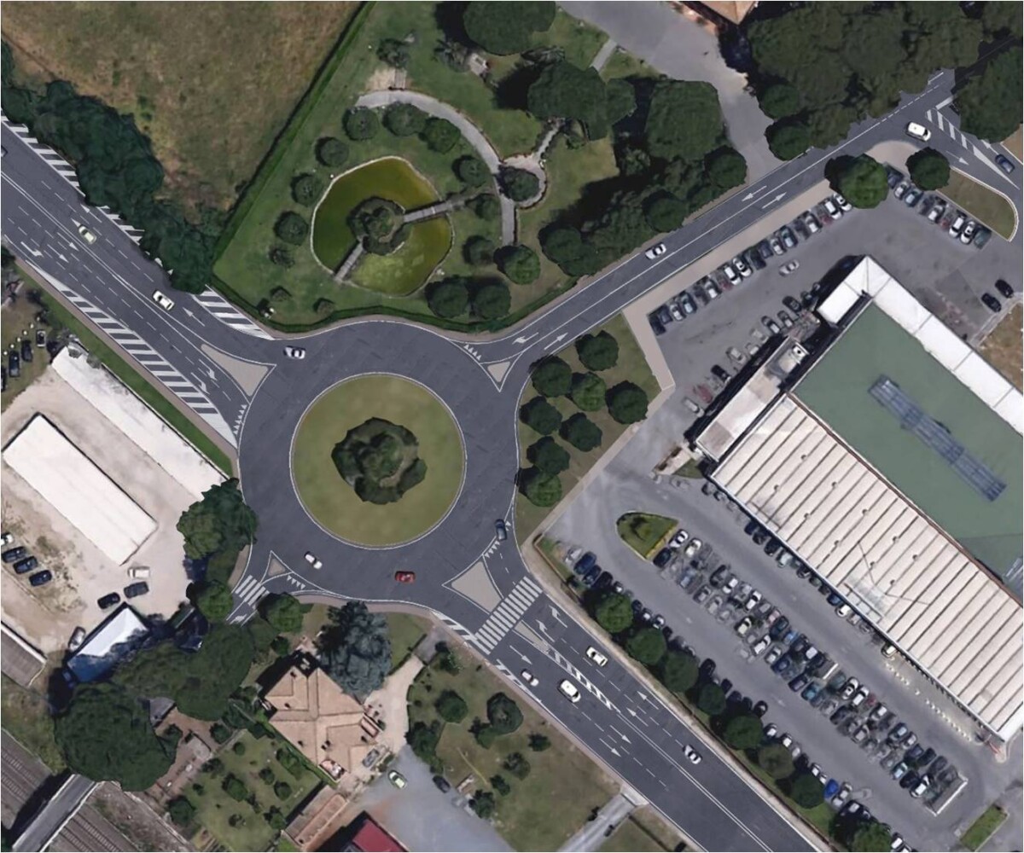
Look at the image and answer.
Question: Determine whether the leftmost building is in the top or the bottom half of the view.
bottom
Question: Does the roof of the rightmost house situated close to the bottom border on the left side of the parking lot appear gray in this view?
No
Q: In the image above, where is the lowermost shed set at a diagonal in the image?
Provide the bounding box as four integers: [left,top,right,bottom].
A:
[285,786,349,849]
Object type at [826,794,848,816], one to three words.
vehicle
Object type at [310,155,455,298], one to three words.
pond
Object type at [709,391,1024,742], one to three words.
warehouse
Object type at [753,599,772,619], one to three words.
car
